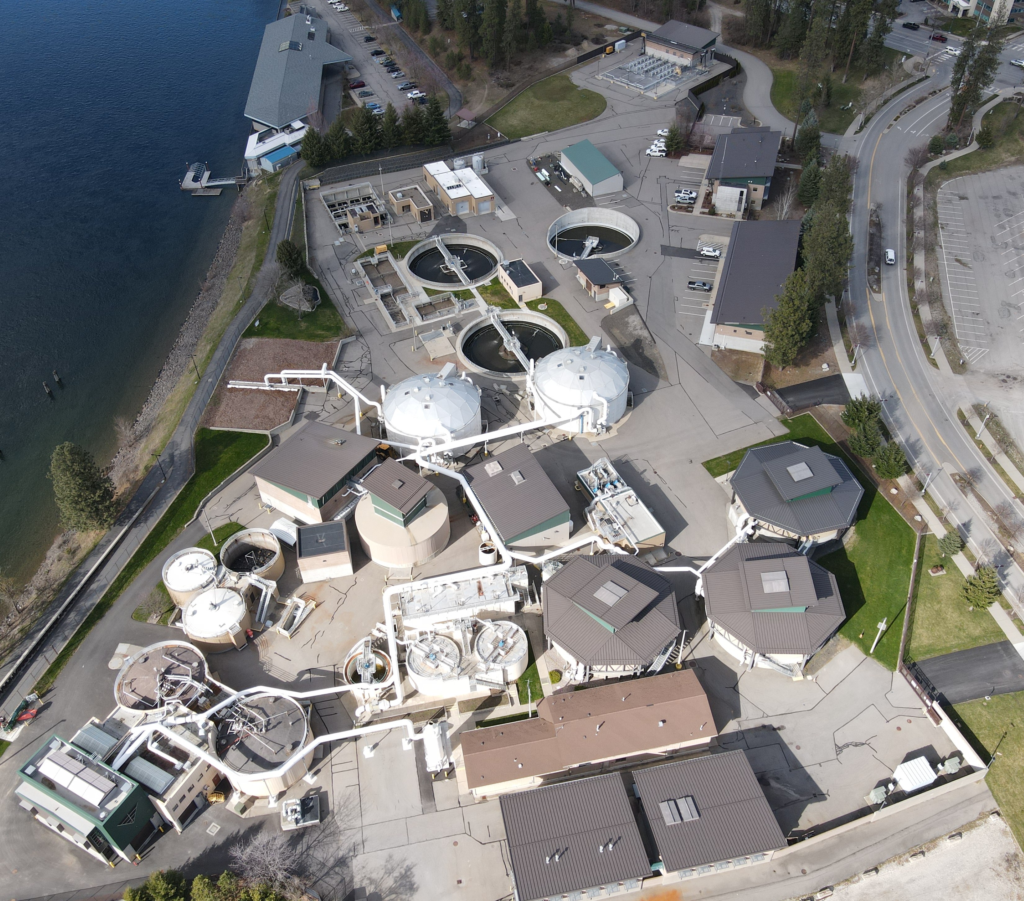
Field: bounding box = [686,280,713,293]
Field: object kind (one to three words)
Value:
vehicle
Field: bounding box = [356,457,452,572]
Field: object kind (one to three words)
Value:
storage tank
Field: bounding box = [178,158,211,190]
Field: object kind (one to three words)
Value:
pier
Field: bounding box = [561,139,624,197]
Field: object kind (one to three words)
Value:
shed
